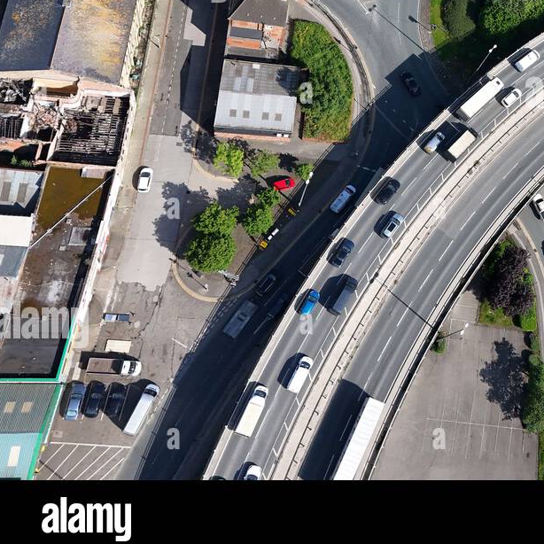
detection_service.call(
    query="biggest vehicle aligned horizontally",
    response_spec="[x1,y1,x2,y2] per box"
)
[84,357,146,377]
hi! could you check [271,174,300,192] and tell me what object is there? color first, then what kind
red car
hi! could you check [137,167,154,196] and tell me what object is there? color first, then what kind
white car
